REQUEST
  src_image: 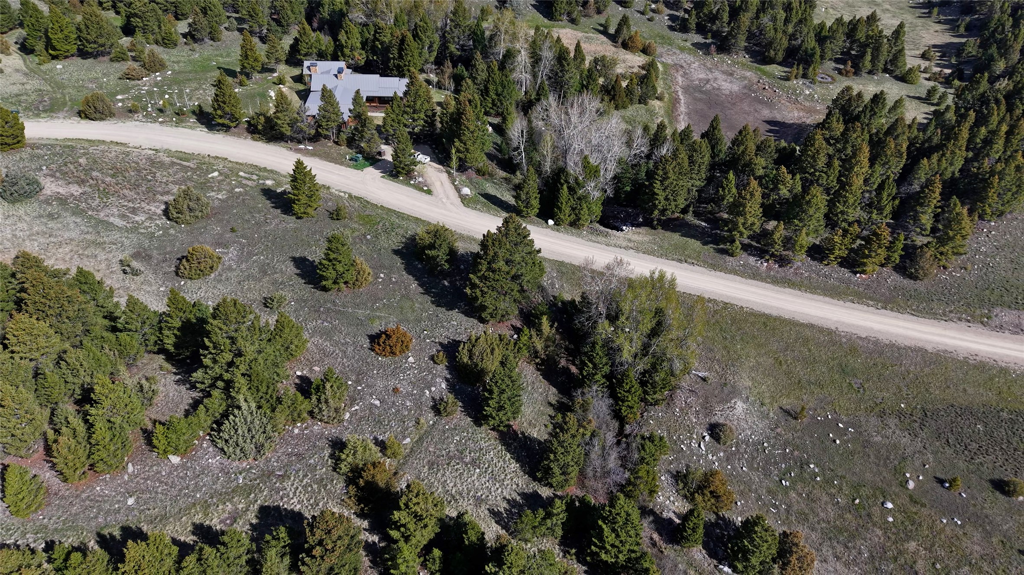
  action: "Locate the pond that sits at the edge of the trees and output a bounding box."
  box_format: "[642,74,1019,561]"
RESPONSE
[654,45,822,146]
